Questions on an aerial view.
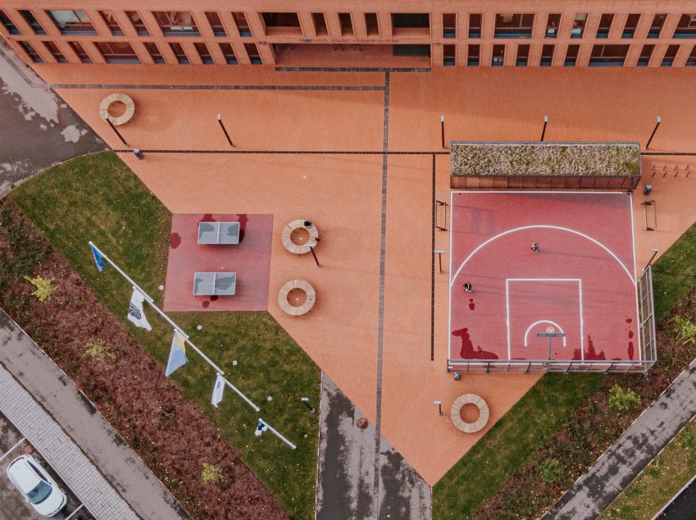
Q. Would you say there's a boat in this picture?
No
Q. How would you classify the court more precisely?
basketball court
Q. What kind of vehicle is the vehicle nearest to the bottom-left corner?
car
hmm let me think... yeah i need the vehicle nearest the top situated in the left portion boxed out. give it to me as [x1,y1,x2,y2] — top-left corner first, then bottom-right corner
[9,455,68,516]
